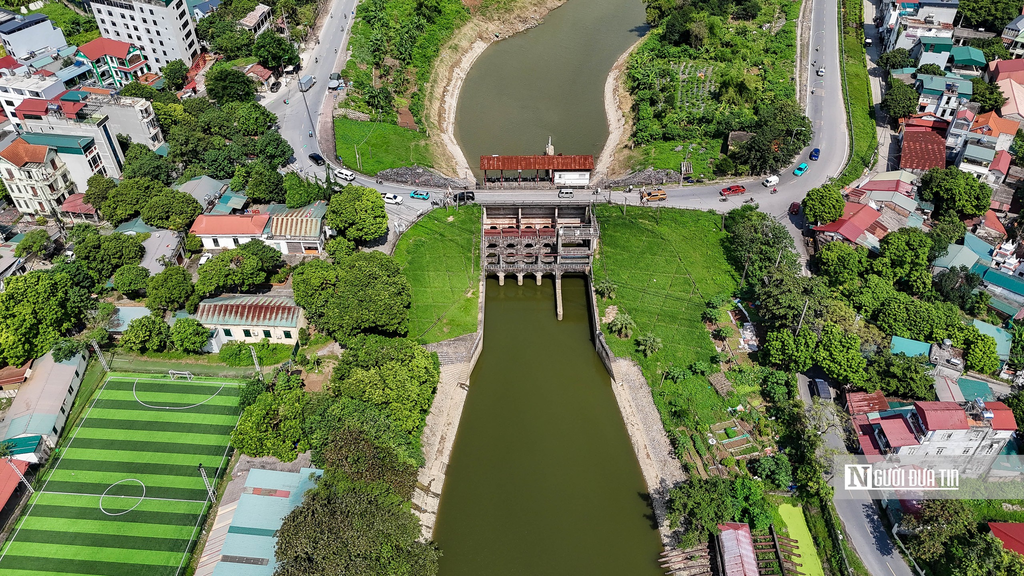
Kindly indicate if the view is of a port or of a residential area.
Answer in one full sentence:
This image shows a residential area.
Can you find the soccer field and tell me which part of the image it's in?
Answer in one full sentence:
The soccer field is located in the bottom left region of the scene.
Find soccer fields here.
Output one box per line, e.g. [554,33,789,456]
[0,358,284,576]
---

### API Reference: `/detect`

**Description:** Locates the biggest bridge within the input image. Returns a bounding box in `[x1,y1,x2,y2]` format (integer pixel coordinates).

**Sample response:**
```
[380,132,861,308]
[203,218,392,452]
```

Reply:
[469,182,603,208]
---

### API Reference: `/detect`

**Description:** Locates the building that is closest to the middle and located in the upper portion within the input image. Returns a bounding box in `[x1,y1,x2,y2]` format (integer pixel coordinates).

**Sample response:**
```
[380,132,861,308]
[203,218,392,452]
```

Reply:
[479,155,606,187]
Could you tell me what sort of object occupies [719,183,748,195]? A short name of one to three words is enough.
vehicle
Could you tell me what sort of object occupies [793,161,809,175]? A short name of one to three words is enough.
car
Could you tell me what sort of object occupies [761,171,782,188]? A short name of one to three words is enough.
vehicle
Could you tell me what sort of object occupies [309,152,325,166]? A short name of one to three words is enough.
car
